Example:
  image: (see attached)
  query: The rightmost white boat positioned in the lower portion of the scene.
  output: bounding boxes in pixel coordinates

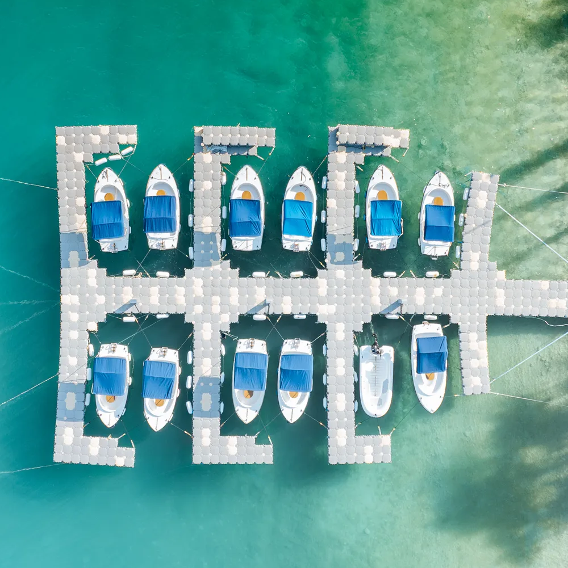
[410,323,450,415]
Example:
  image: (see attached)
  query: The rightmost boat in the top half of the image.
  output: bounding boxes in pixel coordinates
[419,170,457,257]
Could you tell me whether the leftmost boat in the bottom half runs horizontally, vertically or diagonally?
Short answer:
vertically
